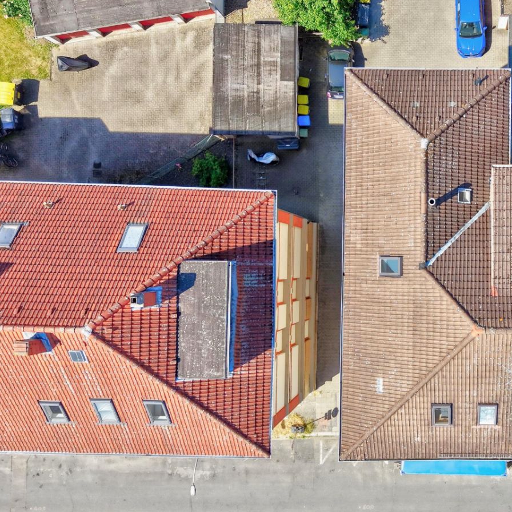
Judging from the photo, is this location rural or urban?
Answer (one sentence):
The area is urban.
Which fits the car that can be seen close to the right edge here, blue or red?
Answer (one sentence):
The car that can be seen close to the right edge looks blue in the image.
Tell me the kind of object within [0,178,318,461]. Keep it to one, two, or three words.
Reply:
house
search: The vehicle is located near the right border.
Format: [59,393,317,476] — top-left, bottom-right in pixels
[453,0,490,57]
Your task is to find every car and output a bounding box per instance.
[453,0,490,57]
[321,31,357,97]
